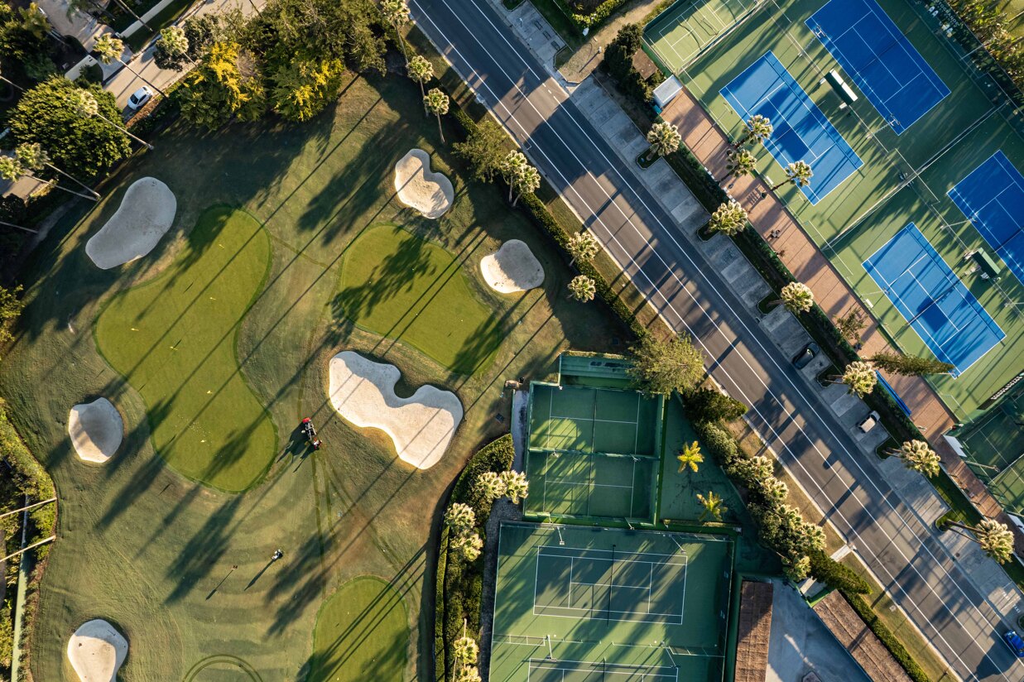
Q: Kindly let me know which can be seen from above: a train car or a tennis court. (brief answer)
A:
tennis court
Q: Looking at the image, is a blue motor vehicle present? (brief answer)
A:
Yes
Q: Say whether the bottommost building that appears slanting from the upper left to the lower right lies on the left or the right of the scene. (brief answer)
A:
right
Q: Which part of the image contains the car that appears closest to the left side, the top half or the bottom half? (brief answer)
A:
top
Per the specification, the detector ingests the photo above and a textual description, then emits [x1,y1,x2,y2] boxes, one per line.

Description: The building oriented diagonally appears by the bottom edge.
[807,588,908,682]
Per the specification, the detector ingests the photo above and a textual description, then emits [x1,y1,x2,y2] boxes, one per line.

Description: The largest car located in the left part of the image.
[129,87,153,110]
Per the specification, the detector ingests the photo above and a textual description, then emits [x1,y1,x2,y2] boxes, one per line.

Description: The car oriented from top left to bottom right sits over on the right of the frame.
[1002,630,1024,657]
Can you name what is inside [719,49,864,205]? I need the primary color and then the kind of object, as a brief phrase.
blue tennis court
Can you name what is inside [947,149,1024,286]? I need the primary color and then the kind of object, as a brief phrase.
blue tennis court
